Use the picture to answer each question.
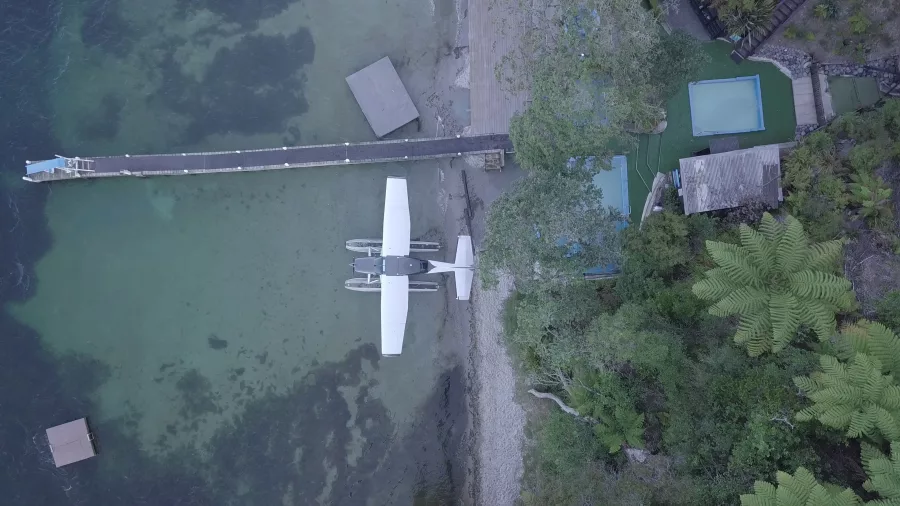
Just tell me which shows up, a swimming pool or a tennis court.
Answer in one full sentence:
Looking from above, you can make out a swimming pool.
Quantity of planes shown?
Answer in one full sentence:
Just 1 plane appears in this view.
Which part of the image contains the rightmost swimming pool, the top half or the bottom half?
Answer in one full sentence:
The rightmost swimming pool is in the top half of the image.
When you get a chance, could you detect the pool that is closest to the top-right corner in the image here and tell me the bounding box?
[687,76,766,138]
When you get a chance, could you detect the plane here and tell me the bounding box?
[345,177,475,356]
